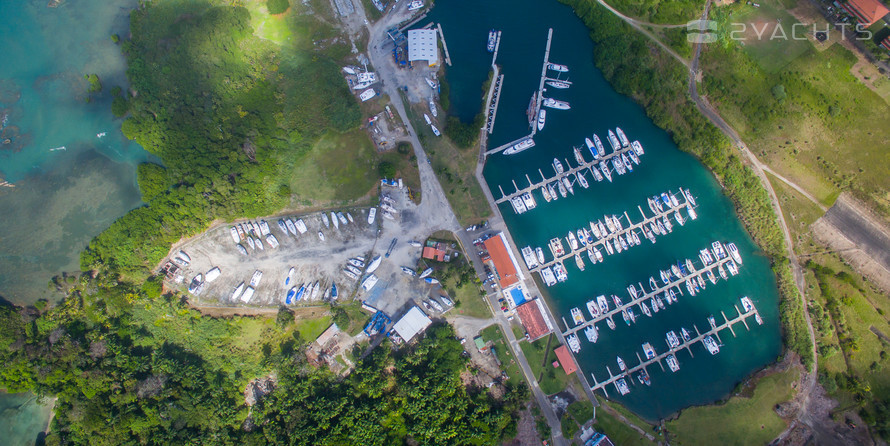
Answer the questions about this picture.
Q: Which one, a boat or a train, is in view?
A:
boat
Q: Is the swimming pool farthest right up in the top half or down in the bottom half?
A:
bottom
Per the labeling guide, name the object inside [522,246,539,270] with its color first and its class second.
white boat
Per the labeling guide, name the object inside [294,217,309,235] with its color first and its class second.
white boat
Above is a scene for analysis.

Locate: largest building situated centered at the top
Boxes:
[408,29,438,65]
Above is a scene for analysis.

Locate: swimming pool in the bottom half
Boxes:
[503,282,533,310]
